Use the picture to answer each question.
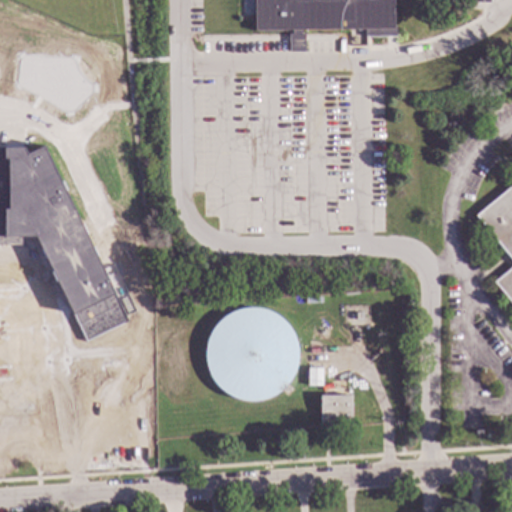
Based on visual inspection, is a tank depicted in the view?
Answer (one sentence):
Yes, a tank can be made out from above.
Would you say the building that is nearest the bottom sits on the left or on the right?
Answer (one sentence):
You can find the building that is nearest the bottom on the right side of the picture.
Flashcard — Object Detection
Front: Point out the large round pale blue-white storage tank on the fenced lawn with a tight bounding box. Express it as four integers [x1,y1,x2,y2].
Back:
[208,308,300,400]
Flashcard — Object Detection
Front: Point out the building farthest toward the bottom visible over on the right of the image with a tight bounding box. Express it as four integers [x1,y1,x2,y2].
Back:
[322,394,354,420]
